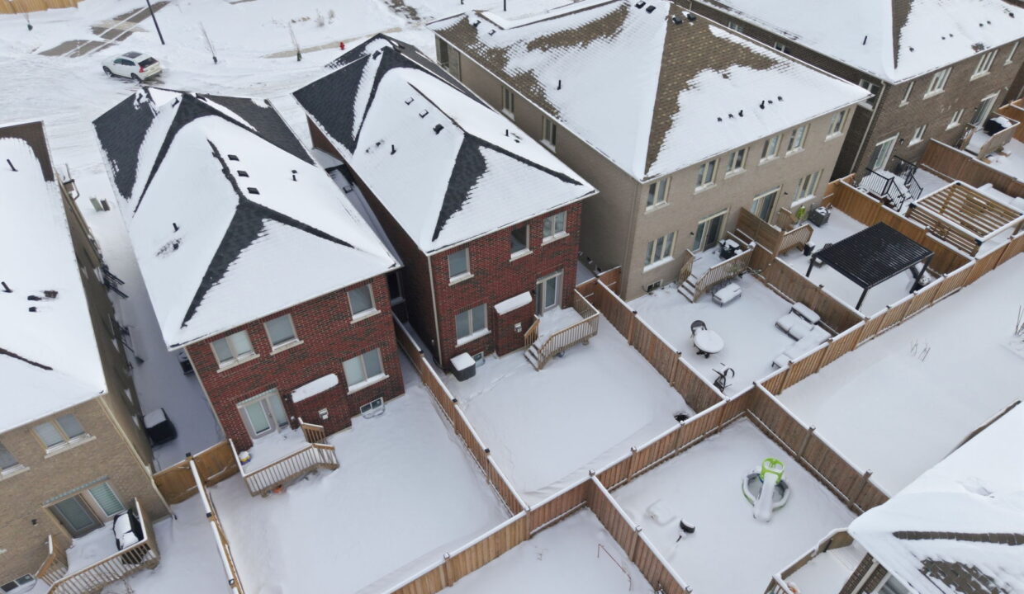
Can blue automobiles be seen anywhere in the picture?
No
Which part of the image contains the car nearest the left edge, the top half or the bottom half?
top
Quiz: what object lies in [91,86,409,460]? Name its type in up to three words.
house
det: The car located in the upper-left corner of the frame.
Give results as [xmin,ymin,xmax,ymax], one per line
[101,48,165,83]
